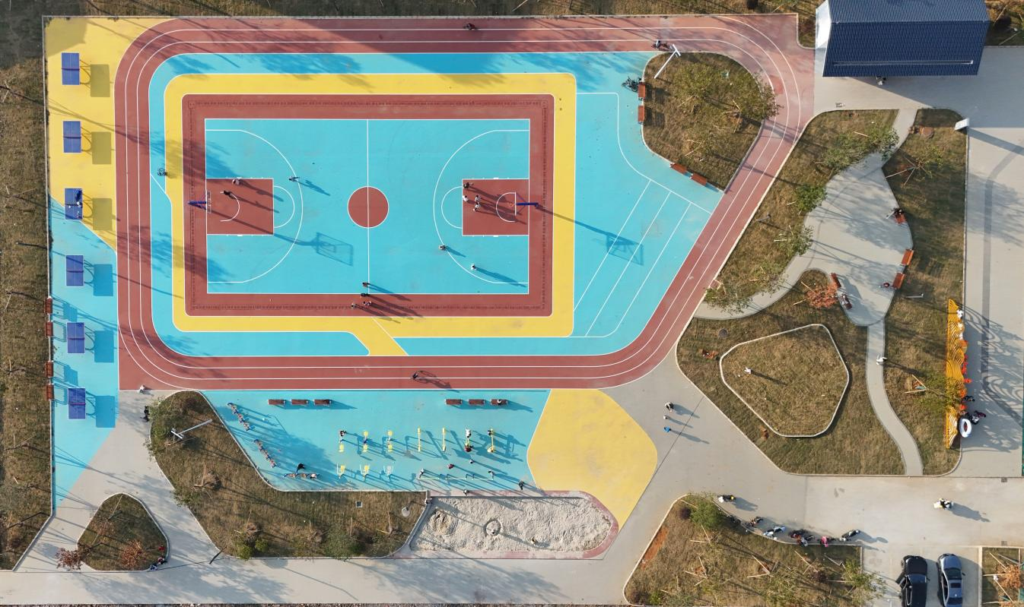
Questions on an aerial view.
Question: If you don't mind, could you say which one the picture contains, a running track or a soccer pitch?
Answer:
running track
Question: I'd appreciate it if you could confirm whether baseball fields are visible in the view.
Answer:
No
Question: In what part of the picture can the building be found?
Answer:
top right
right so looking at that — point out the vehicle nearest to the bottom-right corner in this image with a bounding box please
[934,554,966,607]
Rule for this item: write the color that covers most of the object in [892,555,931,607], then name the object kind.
black car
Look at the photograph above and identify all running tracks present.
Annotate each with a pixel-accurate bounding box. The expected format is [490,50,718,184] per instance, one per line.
[114,14,814,392]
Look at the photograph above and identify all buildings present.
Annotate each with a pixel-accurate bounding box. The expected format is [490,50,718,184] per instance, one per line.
[816,0,989,76]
